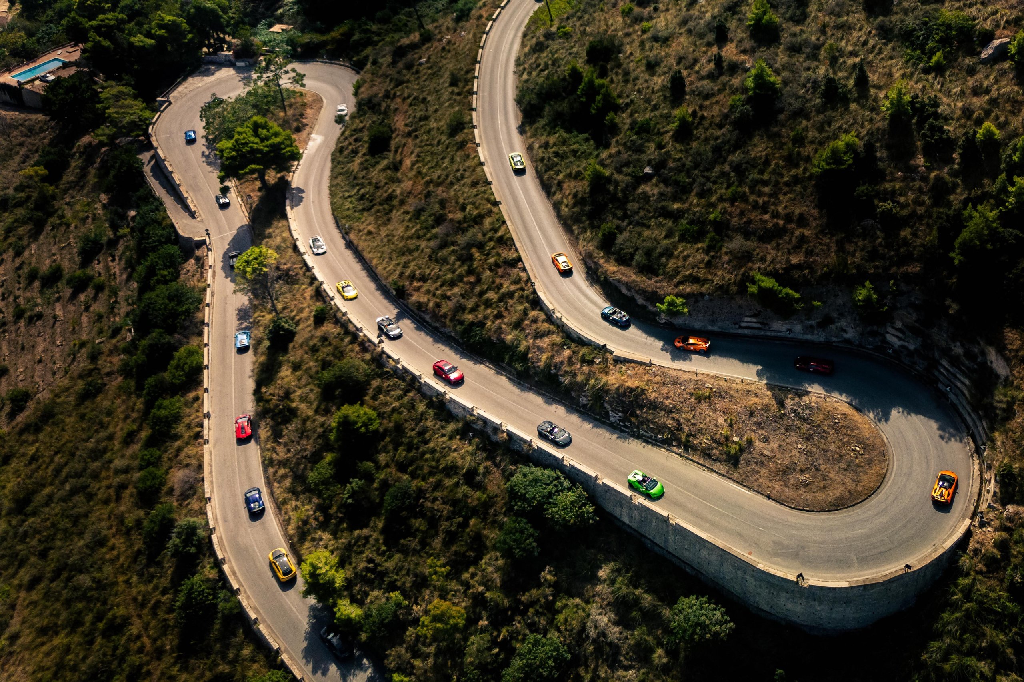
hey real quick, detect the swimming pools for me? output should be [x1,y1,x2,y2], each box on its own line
[6,56,72,82]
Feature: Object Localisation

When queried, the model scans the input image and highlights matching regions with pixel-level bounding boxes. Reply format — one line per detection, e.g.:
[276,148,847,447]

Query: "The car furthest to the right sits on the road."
[930,472,958,506]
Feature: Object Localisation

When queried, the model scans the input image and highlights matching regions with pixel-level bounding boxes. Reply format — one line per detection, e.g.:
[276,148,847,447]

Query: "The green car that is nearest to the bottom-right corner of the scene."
[625,469,667,499]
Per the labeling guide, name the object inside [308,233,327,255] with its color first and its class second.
white car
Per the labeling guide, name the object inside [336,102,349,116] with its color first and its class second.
white vehicle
